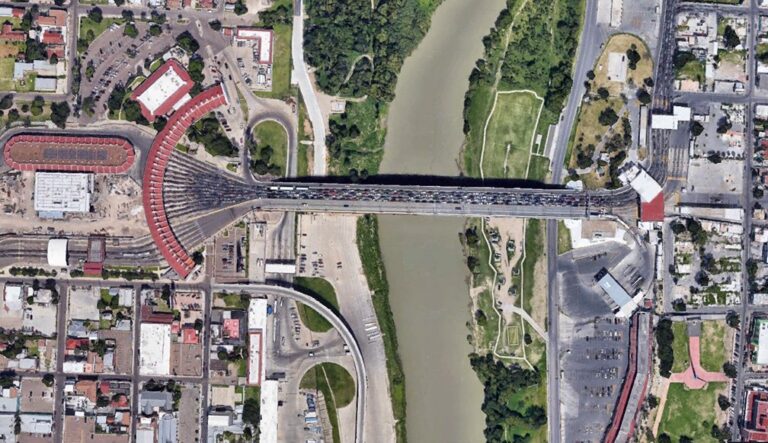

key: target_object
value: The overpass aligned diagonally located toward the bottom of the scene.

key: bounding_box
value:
[208,282,368,443]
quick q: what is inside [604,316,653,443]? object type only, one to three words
building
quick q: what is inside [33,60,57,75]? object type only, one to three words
house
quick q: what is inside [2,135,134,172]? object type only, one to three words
building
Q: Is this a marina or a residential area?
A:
residential area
